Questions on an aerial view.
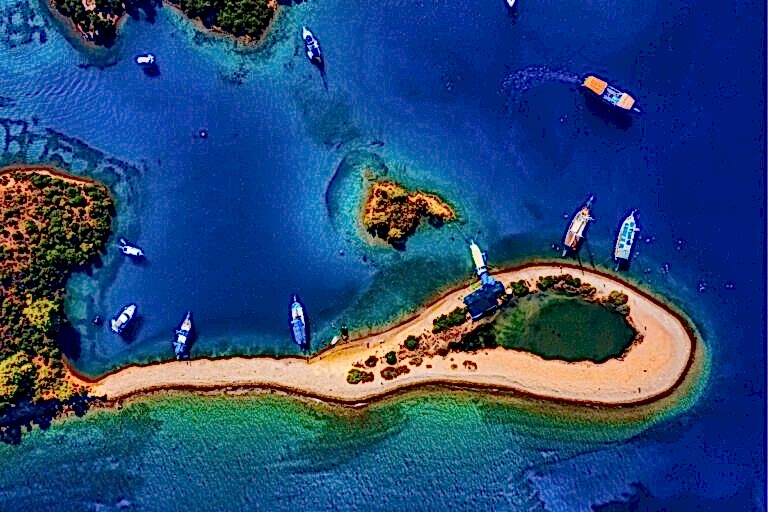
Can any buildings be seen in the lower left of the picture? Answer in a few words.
No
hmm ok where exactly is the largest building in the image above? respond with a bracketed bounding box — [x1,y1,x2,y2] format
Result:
[460,280,503,321]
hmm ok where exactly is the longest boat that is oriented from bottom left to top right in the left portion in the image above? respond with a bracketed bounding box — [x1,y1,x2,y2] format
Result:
[109,306,136,335]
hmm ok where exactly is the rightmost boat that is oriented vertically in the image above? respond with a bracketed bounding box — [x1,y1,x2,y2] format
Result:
[615,209,644,268]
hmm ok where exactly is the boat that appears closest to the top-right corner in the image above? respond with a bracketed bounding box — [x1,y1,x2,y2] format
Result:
[580,73,644,112]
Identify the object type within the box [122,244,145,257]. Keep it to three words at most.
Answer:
boat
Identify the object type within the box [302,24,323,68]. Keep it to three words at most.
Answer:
boat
